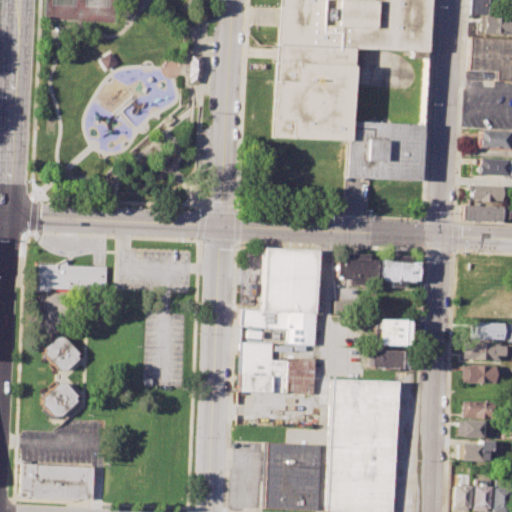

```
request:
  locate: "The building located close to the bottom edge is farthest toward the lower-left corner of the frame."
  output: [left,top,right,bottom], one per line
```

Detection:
[17,466,96,500]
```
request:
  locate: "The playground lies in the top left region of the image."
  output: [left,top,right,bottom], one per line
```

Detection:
[82,61,182,156]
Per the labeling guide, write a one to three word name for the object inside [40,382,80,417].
building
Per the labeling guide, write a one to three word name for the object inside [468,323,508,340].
house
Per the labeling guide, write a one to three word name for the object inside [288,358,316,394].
shed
